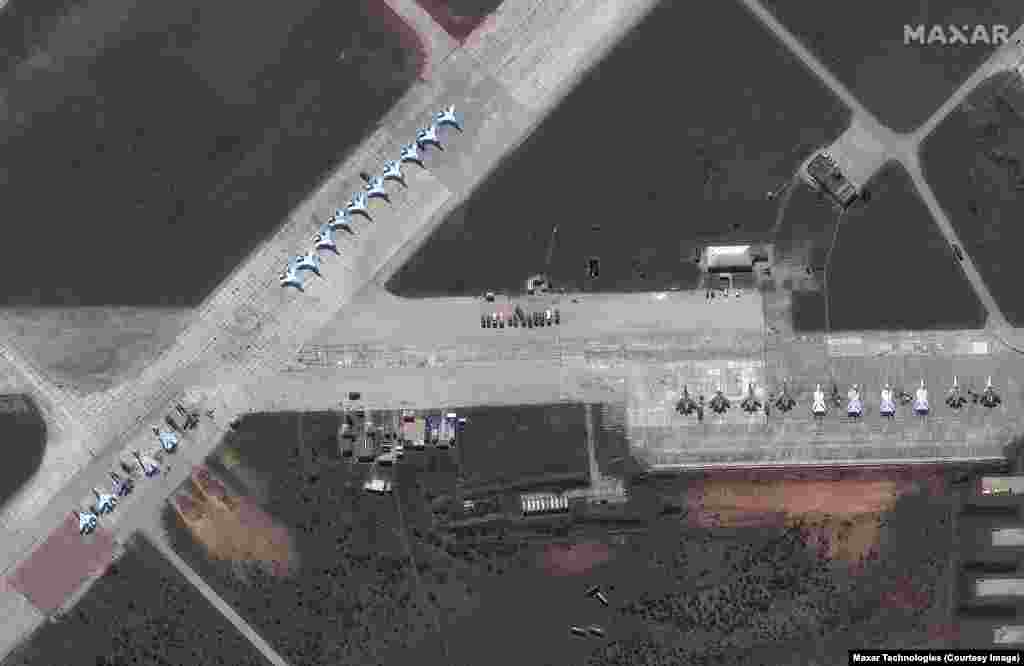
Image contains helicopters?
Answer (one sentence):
No, this view has no helicopter in it.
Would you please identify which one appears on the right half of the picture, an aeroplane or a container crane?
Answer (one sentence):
What appears on the right half of the picture is an aeroplane.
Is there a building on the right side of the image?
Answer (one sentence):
Yes, I can see a building on the right side of the image.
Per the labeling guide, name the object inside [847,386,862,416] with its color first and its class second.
white airplane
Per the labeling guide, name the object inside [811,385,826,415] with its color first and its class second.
white airplane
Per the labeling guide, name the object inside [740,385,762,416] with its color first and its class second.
gray airplane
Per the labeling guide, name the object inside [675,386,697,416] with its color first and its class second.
gray airplane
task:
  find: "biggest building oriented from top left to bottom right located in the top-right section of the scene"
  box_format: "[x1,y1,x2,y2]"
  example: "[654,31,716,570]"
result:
[807,155,858,207]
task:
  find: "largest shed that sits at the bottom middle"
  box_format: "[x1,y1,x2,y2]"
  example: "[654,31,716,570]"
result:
[521,495,568,512]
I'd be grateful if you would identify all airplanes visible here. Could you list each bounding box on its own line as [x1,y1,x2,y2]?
[326,205,354,231]
[156,425,179,452]
[946,379,967,409]
[847,386,862,416]
[879,382,895,415]
[979,377,1001,408]
[675,386,697,416]
[709,387,731,417]
[740,385,762,416]
[137,453,161,480]
[416,125,444,147]
[77,509,101,535]
[396,142,425,166]
[775,386,797,416]
[811,385,826,415]
[361,176,389,198]
[295,249,323,274]
[313,226,340,251]
[343,191,371,215]
[108,472,131,499]
[434,105,462,128]
[914,381,930,414]
[378,160,407,183]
